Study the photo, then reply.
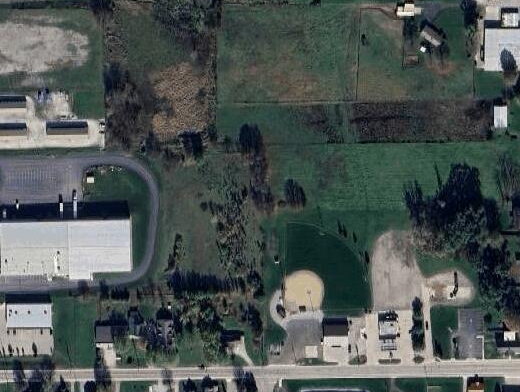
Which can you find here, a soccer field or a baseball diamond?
baseball diamond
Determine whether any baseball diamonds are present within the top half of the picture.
No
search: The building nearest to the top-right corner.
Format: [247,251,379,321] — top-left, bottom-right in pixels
[485,13,520,70]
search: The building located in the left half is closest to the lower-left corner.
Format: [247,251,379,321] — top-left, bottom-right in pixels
[7,303,51,329]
